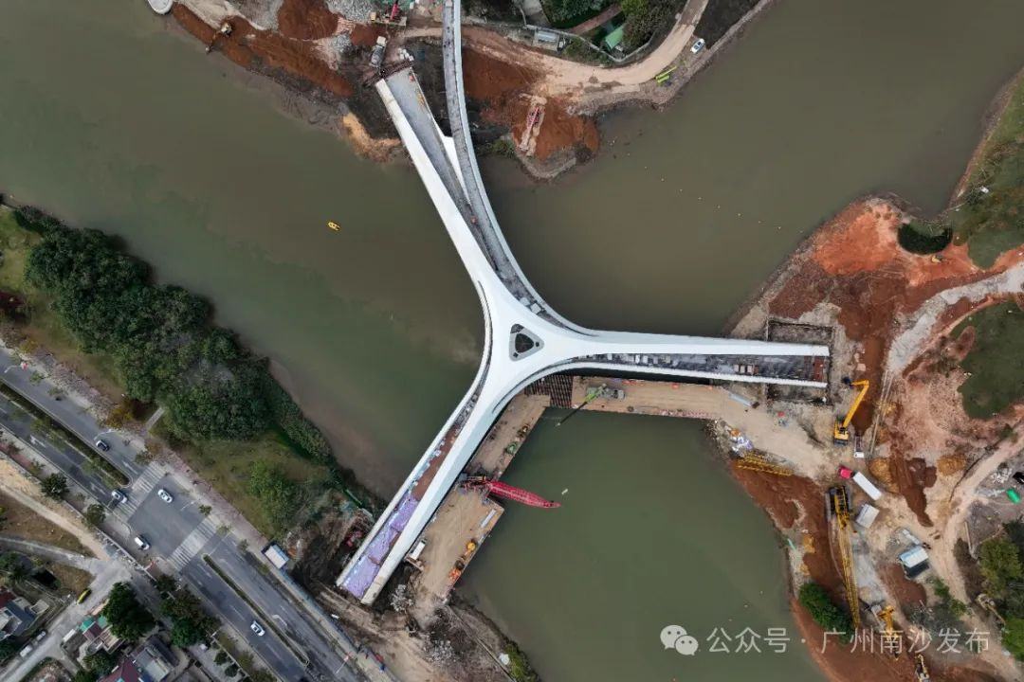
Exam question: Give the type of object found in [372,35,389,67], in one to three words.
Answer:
vehicle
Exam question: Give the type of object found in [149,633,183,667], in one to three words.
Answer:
house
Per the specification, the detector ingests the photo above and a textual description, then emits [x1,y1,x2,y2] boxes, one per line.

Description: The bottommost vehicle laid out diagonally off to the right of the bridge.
[971,591,1008,627]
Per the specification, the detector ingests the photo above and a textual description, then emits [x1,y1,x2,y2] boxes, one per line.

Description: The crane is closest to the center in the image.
[556,377,625,425]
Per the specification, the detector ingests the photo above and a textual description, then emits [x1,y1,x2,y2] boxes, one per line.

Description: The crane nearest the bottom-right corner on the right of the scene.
[827,487,860,627]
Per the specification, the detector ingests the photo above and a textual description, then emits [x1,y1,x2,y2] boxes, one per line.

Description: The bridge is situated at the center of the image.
[336,0,828,606]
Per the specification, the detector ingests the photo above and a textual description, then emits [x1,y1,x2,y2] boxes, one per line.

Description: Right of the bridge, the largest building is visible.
[895,546,928,569]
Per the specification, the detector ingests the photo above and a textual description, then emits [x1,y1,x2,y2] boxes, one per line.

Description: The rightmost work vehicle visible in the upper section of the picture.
[925,251,943,264]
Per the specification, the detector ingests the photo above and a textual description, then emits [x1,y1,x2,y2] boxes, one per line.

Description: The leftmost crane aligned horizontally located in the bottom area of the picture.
[467,477,563,508]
